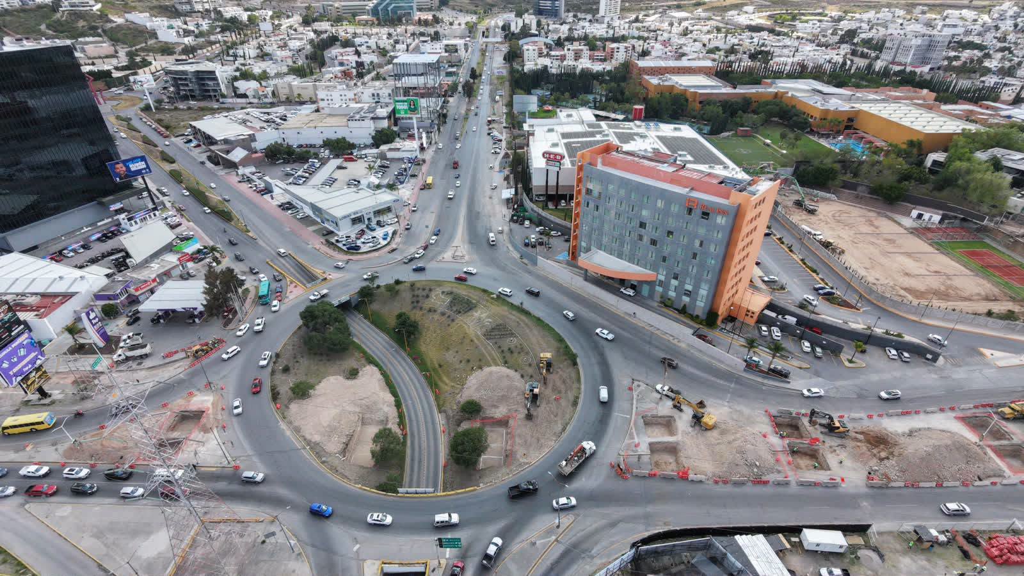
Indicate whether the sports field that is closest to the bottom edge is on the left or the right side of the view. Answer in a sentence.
The sports field that is closest to the bottom edge sits on the right side.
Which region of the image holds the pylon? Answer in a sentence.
The pylon sits in the bottom left section of the image.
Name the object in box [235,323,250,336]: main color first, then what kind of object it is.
white vehicle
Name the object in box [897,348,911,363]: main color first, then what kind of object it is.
gray car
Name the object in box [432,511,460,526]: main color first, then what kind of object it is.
white vehicle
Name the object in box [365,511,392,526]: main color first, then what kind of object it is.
white car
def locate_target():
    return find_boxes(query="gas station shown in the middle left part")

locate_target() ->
[139,280,207,324]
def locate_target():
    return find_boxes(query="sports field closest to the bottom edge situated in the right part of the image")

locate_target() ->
[779,192,1024,324]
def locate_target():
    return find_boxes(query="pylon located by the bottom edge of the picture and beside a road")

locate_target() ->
[72,364,258,576]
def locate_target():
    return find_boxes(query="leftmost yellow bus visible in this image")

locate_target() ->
[0,414,57,435]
